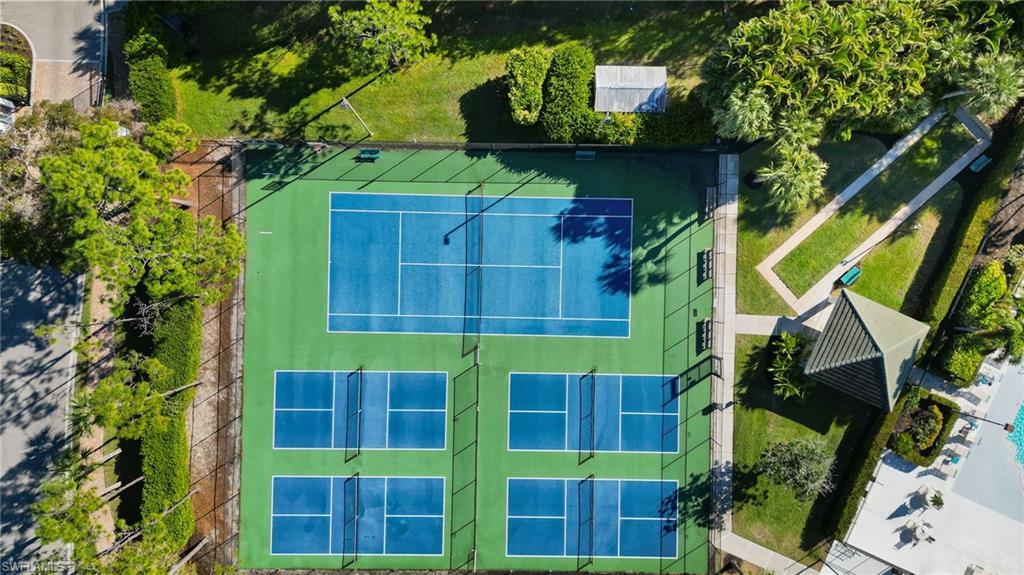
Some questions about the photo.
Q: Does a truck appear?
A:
No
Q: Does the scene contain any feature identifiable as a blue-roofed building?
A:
No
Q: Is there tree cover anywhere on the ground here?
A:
Yes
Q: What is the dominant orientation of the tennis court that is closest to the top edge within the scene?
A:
horizontally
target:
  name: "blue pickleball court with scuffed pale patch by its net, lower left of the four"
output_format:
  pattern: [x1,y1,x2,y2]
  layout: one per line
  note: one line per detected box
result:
[270,475,445,557]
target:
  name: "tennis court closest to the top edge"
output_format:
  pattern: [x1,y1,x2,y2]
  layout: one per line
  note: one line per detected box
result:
[326,192,633,337]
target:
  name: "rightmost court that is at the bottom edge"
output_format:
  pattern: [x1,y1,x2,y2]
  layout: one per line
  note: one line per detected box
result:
[506,478,679,559]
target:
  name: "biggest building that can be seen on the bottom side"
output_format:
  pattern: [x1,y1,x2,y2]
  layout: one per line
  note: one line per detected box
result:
[797,288,932,412]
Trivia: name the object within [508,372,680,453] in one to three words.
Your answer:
sports court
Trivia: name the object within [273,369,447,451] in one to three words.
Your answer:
sports court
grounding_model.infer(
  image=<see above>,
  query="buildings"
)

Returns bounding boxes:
[797,288,932,412]
[596,64,669,115]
